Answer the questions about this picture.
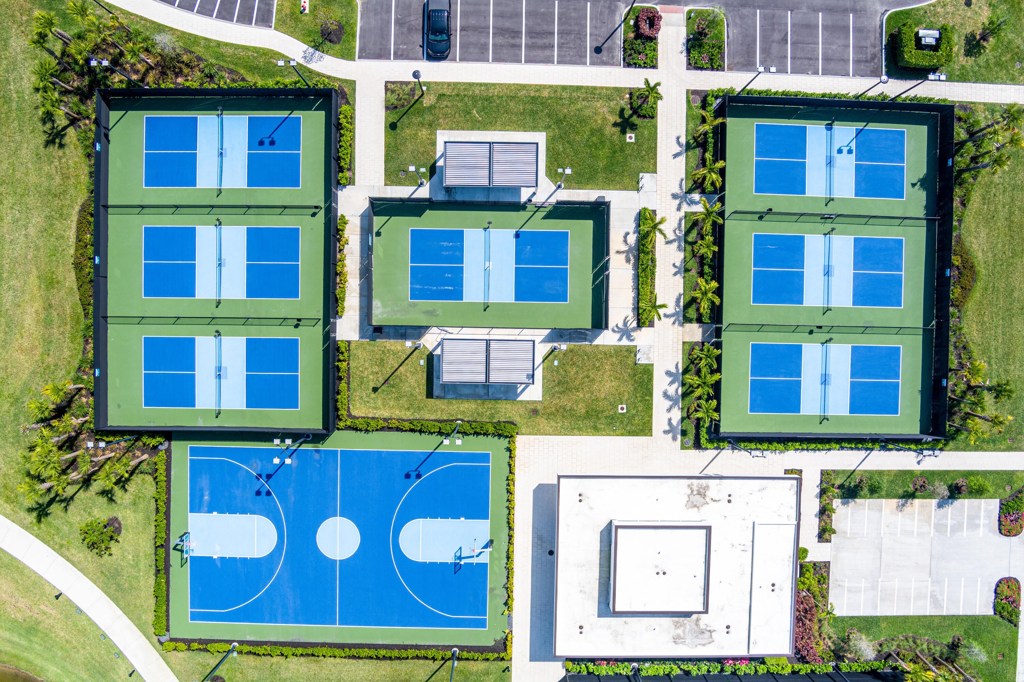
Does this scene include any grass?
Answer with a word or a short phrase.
Yes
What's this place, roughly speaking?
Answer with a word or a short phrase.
sports ground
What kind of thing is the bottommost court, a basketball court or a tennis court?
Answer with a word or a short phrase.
basketball court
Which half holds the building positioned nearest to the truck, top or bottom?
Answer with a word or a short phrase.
top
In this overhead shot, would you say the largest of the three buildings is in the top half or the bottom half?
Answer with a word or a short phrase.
bottom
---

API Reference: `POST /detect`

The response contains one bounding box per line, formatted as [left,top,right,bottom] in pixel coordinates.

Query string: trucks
[425,0,453,60]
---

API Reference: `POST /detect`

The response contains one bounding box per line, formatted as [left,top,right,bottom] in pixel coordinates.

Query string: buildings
[444,141,538,193]
[553,473,802,658]
[440,338,535,385]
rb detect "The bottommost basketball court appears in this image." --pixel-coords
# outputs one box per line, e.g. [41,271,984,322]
[170,431,509,646]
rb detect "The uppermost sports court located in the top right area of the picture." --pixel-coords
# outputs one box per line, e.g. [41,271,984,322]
[718,104,939,221]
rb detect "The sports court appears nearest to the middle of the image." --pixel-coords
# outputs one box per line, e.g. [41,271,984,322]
[373,202,606,328]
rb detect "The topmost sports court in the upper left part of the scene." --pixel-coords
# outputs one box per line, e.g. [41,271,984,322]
[109,96,338,209]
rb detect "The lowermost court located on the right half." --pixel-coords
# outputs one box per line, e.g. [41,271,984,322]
[713,325,934,434]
